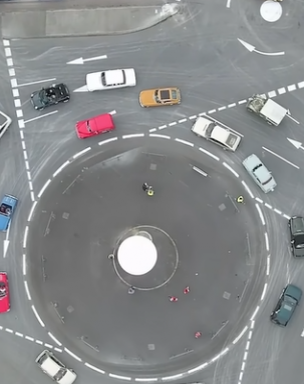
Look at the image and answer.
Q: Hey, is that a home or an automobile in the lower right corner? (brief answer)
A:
automobile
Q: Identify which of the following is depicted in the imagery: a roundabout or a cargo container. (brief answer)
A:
roundabout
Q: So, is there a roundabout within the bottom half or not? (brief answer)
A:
Yes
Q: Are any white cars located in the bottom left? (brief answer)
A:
Yes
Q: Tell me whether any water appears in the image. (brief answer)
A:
No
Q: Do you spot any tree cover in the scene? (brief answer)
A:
No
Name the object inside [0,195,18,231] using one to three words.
car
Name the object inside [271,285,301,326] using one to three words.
car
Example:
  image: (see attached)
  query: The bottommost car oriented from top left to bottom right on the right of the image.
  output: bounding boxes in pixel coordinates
[243,155,276,193]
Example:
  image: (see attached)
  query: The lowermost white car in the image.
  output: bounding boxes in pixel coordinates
[37,351,75,384]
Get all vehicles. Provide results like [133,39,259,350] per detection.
[243,155,276,193]
[139,86,181,107]
[37,351,75,384]
[193,118,239,151]
[76,114,115,138]
[87,68,136,91]
[0,113,11,139]
[0,195,18,231]
[0,272,11,313]
[290,216,304,258]
[271,285,301,326]
[246,93,287,126]
[31,84,69,109]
